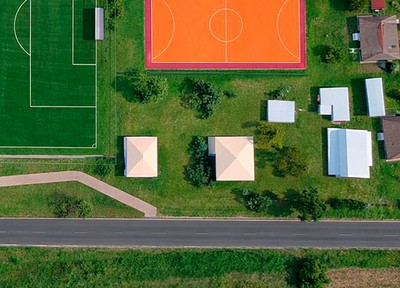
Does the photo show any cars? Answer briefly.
No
